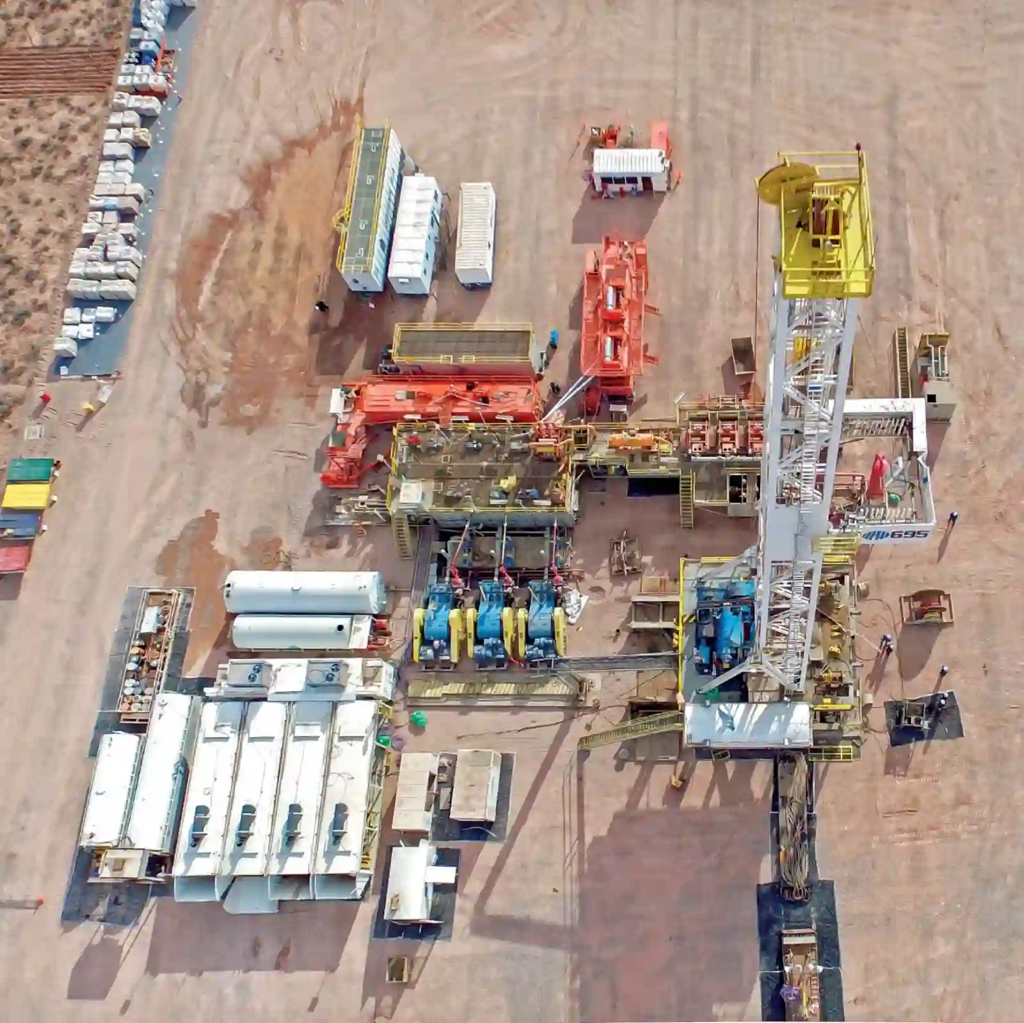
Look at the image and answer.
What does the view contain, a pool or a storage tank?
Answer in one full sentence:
It is a storage tank that can be seen here.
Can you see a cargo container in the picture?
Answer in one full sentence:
Yes, a cargo container is visible in the scene.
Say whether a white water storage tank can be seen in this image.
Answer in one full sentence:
Yes, you can see a white water storage tank in this photo.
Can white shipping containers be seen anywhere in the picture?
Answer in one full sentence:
Yes, I can see a white shipping container in this picture.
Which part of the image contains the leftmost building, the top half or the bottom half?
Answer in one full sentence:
You can find the leftmost building in the bottom half.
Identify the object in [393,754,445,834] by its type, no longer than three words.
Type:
building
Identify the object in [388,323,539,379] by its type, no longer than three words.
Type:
storage tank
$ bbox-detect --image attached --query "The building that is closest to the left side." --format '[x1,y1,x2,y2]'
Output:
[205,659,399,703]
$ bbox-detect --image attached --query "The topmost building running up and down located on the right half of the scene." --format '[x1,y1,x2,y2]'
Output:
[915,333,958,416]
